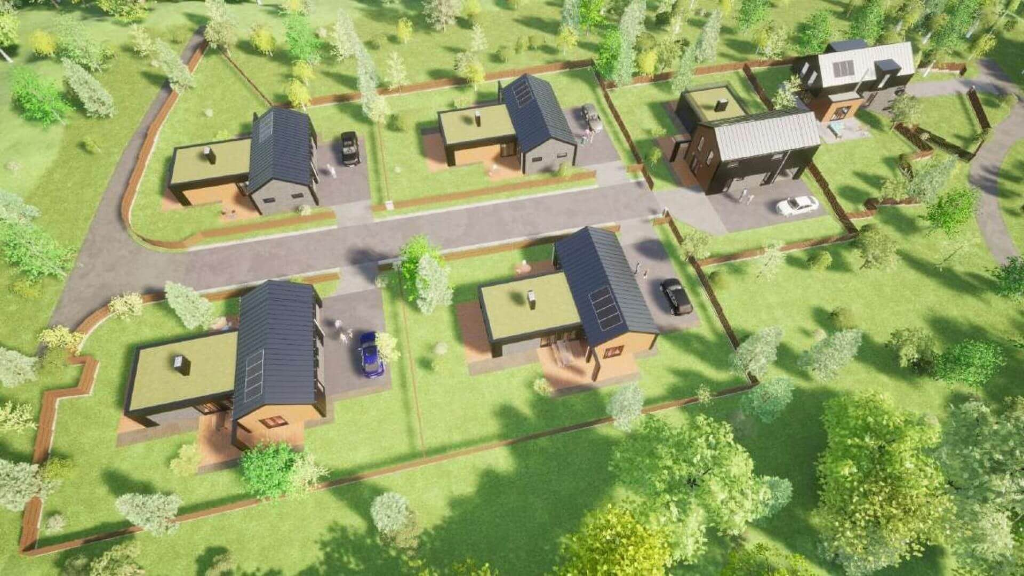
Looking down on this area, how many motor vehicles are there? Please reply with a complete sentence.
Altogether the scene contains 5 motor vehicles.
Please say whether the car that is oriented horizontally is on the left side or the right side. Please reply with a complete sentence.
It is on the right.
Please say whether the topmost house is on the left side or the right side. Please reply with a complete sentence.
The topmost house is on the right side of the image.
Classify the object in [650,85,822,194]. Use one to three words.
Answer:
house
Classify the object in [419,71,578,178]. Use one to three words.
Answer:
house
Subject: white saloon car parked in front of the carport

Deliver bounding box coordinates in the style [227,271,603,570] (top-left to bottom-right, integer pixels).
[773,194,822,219]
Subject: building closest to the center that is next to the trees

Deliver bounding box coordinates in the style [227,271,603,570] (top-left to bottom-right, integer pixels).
[455,223,661,397]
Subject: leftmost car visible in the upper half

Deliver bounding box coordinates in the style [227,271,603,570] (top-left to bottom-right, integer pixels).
[340,133,362,168]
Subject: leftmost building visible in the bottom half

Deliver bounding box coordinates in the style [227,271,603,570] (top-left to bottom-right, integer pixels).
[115,278,335,473]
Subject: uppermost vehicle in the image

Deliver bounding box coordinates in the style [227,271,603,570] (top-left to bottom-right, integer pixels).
[578,102,604,134]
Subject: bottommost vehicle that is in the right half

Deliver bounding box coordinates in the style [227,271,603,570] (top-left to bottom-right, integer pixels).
[659,277,694,321]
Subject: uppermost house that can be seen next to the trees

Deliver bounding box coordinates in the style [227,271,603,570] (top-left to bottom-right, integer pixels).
[780,37,916,124]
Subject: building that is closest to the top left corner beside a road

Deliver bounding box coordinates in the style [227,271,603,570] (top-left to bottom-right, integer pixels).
[157,104,322,221]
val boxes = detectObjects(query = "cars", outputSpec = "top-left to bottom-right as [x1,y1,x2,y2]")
[773,194,822,219]
[578,102,604,134]
[357,334,387,382]
[340,133,362,168]
[659,277,694,321]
